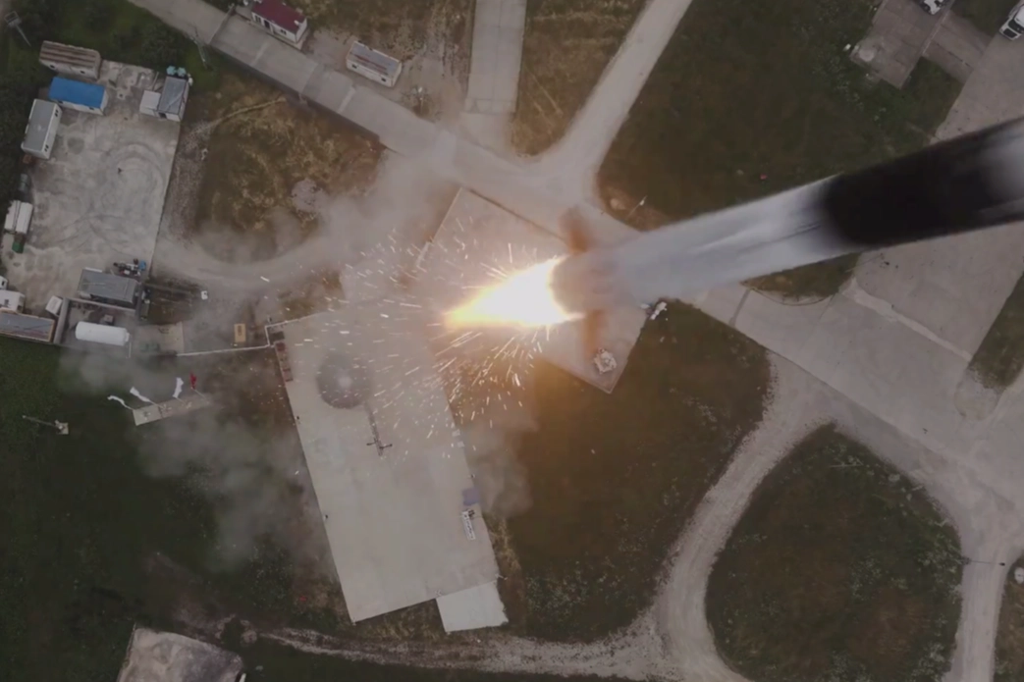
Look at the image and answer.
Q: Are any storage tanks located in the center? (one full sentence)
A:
No, no storage tank is visible in the center.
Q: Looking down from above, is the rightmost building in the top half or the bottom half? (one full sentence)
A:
Seen from above, the rightmost building lies in the top half of the view.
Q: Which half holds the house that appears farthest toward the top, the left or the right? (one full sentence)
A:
It is on the left.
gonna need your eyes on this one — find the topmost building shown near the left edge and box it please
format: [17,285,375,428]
[39,42,107,80]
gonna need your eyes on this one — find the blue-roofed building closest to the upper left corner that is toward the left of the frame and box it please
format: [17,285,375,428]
[48,76,111,116]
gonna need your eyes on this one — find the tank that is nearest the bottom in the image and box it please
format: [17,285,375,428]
[75,322,139,360]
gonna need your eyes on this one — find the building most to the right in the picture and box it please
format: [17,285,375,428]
[346,38,401,89]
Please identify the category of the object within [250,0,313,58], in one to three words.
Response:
house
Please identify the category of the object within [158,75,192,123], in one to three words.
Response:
shed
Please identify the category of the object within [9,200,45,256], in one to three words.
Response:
truck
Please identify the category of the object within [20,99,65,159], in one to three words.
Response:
building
